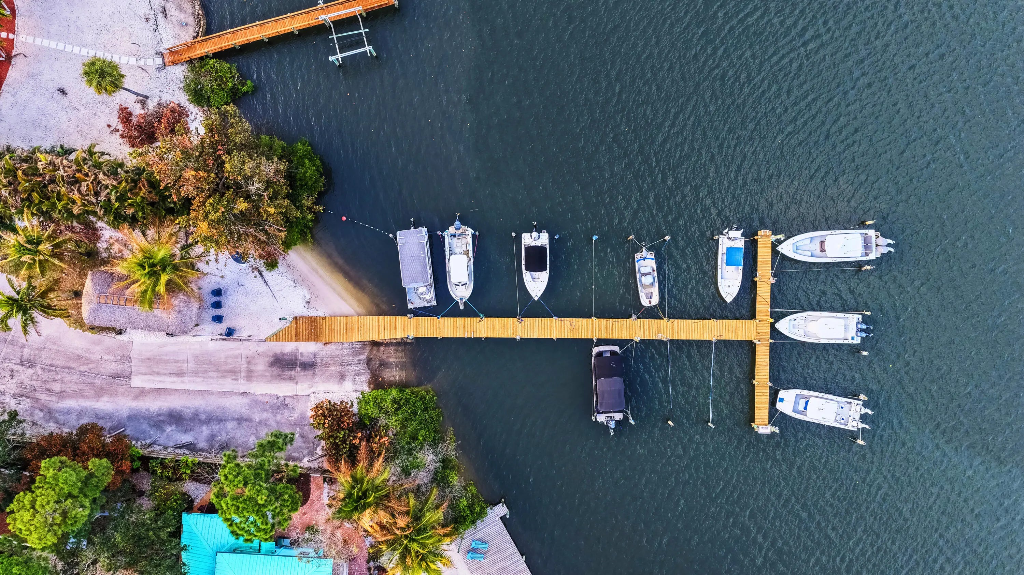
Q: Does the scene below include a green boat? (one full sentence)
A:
No, the frame has no green boat in it.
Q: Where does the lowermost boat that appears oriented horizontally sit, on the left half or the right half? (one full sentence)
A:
You can find the lowermost boat that appears oriented horizontally on the right side of the picture.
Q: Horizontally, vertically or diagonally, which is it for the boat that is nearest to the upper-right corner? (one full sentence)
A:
I'd say the boat that is nearest to the upper-right corner is aligned horizontally in the picture.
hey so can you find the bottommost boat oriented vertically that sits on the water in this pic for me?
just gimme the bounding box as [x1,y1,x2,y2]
[593,345,626,436]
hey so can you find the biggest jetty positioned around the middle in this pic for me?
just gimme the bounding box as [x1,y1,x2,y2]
[266,229,781,431]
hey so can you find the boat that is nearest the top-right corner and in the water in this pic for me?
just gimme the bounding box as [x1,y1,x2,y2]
[773,228,895,263]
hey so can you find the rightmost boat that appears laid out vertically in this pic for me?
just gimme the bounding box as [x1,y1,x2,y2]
[716,225,745,303]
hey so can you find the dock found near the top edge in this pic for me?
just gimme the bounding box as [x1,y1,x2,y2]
[159,0,402,65]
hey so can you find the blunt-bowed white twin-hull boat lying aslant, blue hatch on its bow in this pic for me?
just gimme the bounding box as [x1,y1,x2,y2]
[775,389,875,430]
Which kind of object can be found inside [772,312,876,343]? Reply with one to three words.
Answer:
boat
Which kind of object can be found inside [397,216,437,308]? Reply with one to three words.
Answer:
boat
